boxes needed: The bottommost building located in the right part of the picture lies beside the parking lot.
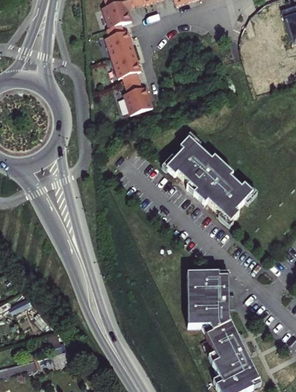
[204,319,262,392]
